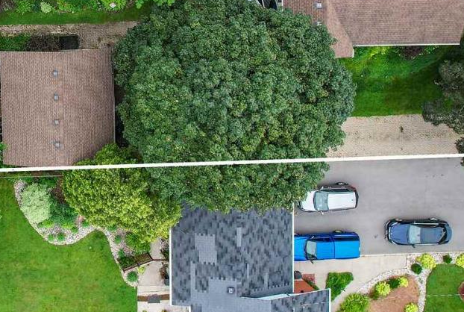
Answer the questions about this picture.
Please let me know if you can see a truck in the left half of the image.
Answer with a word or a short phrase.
No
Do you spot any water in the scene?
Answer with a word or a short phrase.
No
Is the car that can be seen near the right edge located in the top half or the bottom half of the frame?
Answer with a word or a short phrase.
bottom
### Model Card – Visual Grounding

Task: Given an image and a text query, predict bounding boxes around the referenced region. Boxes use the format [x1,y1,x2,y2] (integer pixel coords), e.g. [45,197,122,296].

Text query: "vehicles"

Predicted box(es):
[379,215,454,251]
[291,180,363,215]
[295,228,361,264]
